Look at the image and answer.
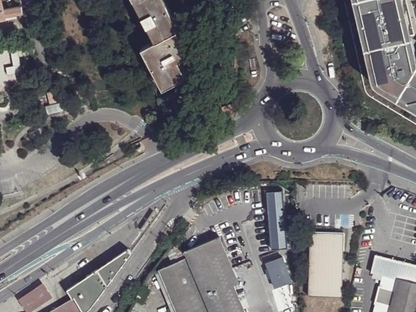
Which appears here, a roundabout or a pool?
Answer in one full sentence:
I can see a roundabout in this picture.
